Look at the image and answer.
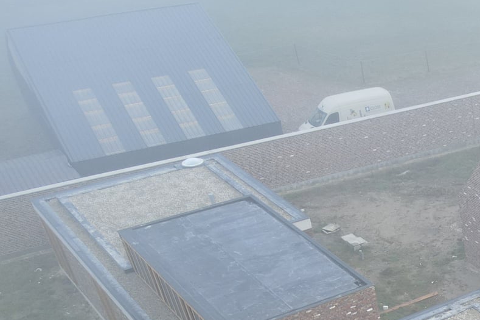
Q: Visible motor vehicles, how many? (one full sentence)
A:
I count just 1 motor vehicle.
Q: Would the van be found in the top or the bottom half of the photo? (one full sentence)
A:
The top half of the photo is where the van is.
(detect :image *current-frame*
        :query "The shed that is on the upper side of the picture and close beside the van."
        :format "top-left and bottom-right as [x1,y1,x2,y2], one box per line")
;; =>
[0,4,288,182]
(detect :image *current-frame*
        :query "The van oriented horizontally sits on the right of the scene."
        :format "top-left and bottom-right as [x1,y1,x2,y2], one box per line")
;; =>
[297,89,394,132]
